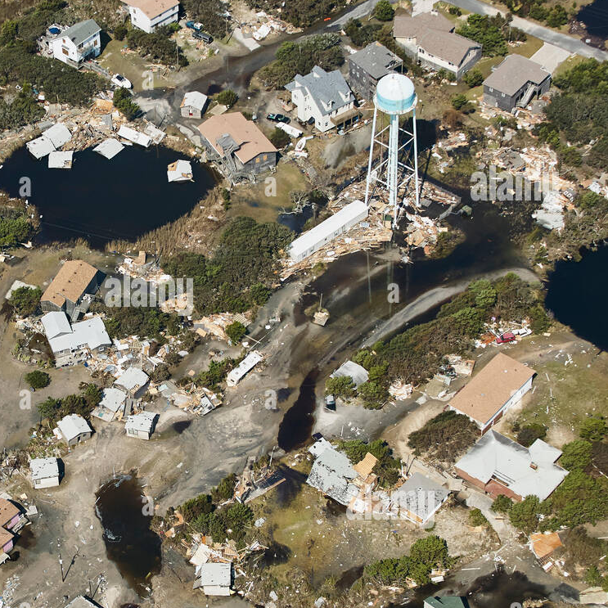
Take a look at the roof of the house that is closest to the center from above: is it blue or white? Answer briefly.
white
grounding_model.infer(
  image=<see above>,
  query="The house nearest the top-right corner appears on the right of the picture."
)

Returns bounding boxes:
[491,57,551,111]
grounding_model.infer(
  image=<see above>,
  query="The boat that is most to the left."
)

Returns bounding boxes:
[107,71,132,85]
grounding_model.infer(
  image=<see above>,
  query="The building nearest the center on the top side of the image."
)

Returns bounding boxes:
[287,201,368,265]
